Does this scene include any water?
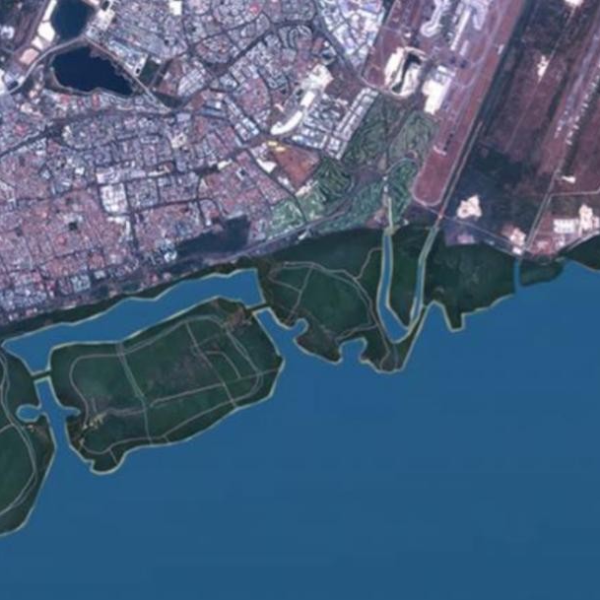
Yes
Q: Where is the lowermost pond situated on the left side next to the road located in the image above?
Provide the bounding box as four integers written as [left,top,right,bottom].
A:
[51,46,132,95]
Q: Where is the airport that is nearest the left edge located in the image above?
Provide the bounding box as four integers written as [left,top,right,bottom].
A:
[361,0,525,209]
